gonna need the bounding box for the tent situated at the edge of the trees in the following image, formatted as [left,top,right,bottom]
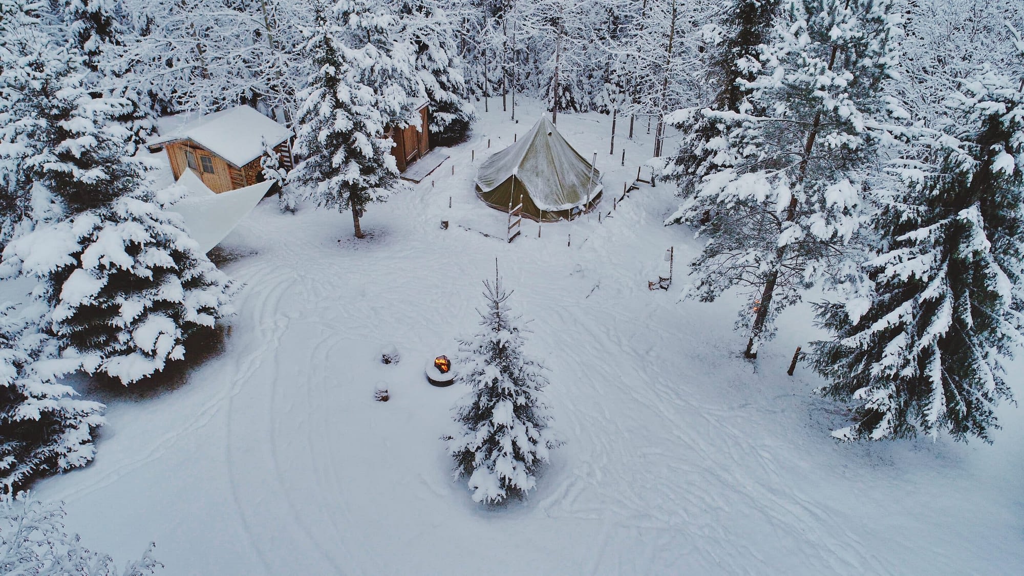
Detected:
[473,110,605,223]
